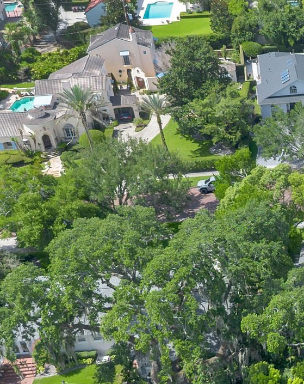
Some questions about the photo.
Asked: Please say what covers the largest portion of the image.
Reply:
trees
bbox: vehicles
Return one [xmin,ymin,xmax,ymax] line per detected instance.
[194,179,230,199]
[121,109,136,119]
